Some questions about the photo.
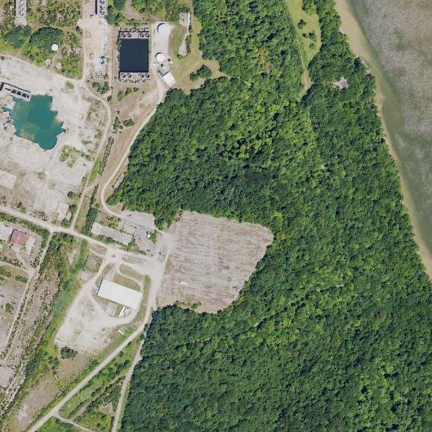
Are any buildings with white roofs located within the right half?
No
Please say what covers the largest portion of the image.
trees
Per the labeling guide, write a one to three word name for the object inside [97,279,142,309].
building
